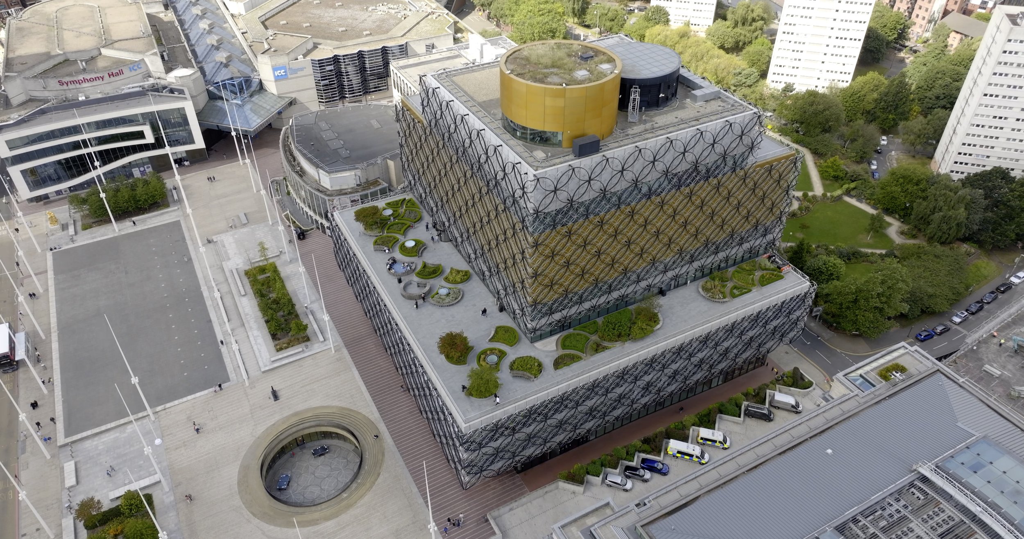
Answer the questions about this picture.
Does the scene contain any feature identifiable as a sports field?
Yes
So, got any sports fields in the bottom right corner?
Yes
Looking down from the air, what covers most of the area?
buildings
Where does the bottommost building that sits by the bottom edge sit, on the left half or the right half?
right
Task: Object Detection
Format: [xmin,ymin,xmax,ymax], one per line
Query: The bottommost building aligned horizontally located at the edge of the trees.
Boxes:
[550,342,1024,539]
